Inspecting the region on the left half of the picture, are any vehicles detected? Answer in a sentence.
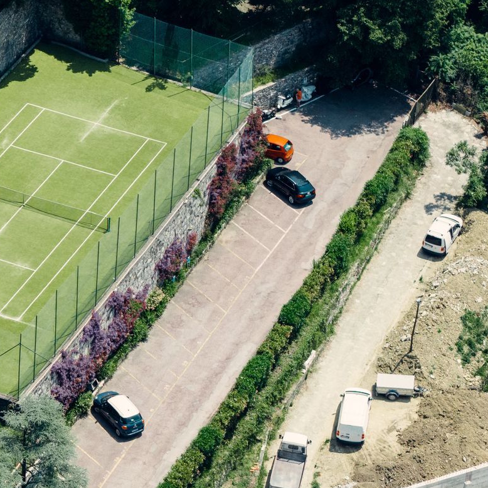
Yes, on the left half of the picture there is a vehicle.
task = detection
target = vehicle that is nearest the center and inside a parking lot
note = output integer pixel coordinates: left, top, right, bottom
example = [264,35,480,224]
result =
[265,165,320,205]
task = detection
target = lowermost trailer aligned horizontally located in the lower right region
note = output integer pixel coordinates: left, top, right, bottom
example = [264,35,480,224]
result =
[375,373,433,401]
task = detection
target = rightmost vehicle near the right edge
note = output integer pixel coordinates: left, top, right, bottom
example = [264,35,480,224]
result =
[419,215,466,260]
